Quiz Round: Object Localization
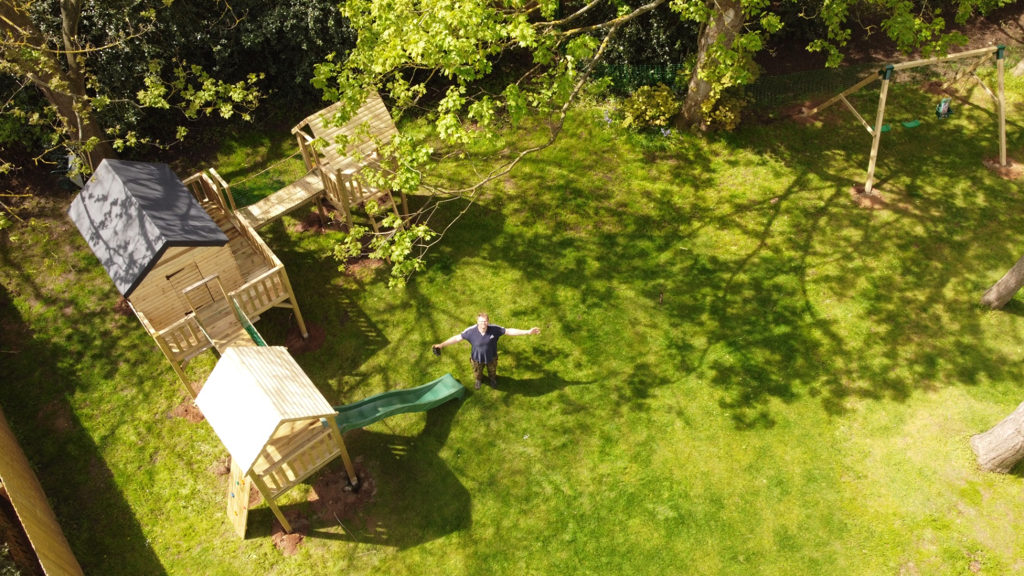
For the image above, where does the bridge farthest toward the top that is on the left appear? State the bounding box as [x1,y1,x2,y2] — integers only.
[222,149,324,228]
